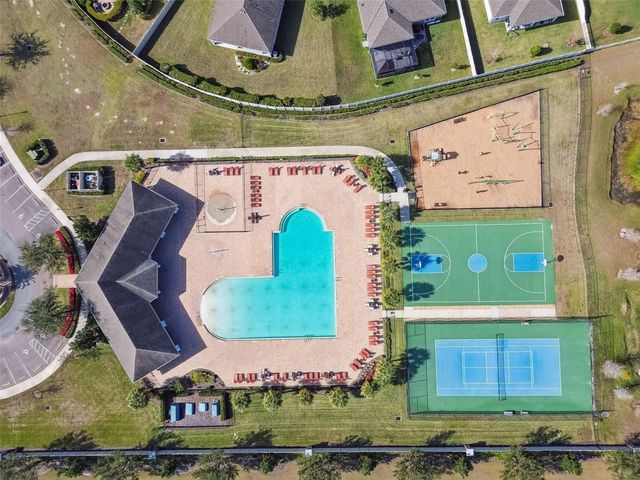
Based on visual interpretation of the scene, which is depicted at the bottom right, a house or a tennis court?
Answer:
tennis court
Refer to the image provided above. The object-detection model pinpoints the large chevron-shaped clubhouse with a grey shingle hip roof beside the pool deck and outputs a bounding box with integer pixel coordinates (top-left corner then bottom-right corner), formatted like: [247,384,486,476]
[75,180,182,382]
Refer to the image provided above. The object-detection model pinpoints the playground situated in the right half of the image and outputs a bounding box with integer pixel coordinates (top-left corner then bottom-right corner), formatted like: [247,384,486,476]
[410,91,542,209]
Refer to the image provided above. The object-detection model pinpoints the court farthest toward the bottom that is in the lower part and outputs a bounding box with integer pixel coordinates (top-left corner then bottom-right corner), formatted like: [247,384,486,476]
[406,321,592,412]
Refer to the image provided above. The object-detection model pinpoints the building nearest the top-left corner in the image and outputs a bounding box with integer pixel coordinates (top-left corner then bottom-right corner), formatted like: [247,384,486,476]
[208,0,287,59]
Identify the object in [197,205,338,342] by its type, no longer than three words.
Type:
swimming pool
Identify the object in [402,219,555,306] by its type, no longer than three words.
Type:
basketball court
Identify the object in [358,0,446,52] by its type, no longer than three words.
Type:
house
